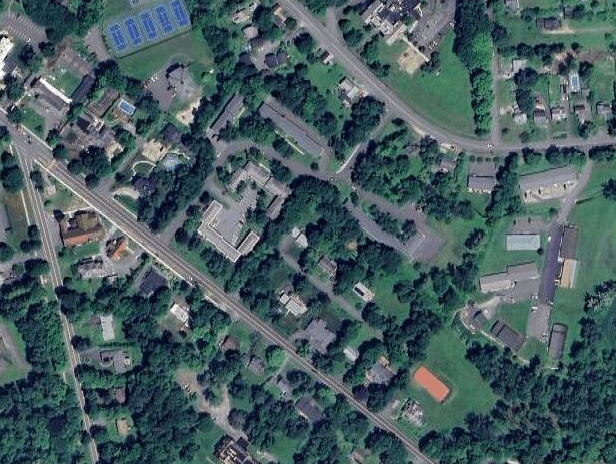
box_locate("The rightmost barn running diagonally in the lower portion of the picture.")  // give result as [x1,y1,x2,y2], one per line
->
[489,316,527,351]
